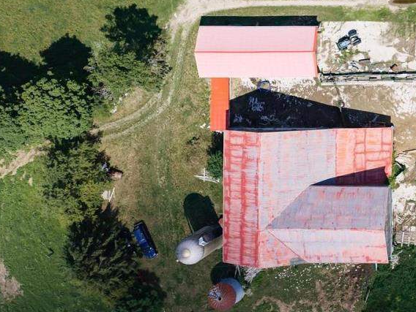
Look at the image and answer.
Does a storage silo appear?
Yes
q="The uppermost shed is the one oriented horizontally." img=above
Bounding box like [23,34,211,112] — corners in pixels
[194,26,321,77]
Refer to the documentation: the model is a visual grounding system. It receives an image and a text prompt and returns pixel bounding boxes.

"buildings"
[194,26,321,77]
[223,127,393,271]
[209,78,233,126]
